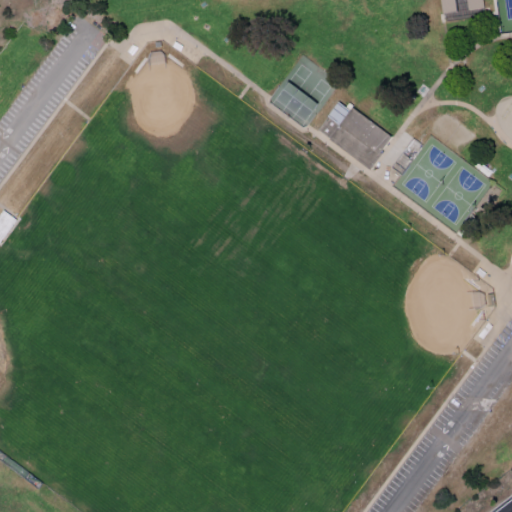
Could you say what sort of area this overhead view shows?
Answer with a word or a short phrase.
sports ground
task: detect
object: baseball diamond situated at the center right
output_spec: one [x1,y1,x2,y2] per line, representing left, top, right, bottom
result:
[406,254,488,354]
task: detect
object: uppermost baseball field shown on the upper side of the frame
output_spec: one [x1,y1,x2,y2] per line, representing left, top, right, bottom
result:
[127,51,195,137]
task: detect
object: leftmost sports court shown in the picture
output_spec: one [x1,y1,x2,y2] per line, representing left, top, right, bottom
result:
[271,56,335,126]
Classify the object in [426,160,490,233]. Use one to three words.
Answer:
basketball court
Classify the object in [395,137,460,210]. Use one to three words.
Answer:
basketball court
